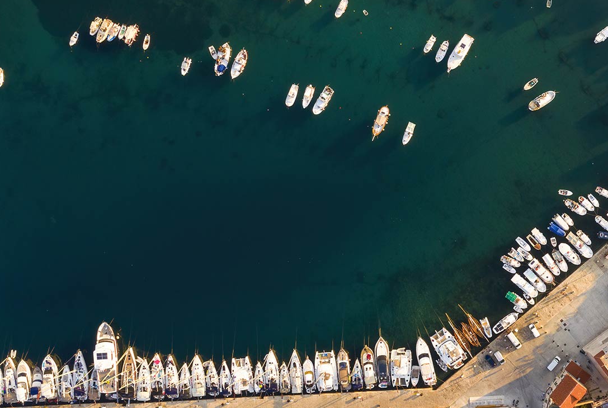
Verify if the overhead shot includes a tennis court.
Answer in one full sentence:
No, I can see no tennis court in this picture.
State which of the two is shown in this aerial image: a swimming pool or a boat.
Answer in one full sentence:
The image shows a boat.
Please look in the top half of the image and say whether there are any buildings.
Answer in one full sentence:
No, in the top half of the image there is no building.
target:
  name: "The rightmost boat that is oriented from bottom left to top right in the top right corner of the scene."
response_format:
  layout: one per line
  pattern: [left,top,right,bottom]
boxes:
[593,27,608,45]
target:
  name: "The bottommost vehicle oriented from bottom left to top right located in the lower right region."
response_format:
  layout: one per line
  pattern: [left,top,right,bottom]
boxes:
[546,356,561,371]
